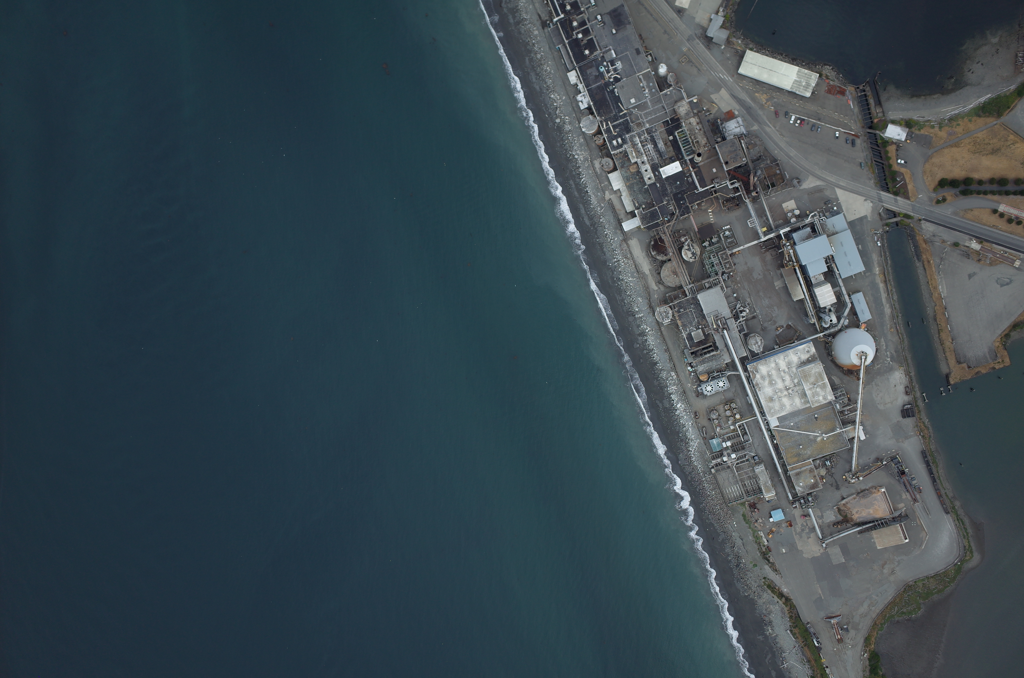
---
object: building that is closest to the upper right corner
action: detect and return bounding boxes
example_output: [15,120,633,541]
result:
[883,123,909,142]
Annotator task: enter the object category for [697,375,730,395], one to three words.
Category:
cooling tower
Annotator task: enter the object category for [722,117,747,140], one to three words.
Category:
shed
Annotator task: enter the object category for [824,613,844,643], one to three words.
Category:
vehicle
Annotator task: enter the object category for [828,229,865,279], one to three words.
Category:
building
